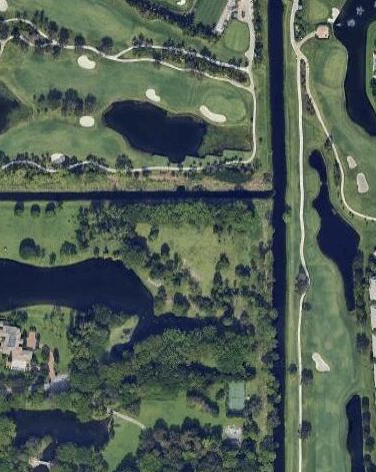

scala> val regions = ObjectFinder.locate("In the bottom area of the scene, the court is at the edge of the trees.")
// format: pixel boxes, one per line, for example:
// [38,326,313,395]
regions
[228,380,245,409]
